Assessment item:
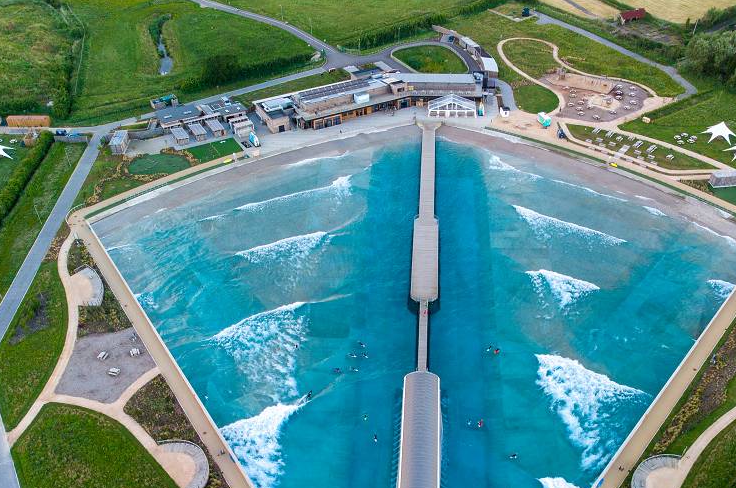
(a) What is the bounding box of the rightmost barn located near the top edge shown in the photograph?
[621,6,648,25]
